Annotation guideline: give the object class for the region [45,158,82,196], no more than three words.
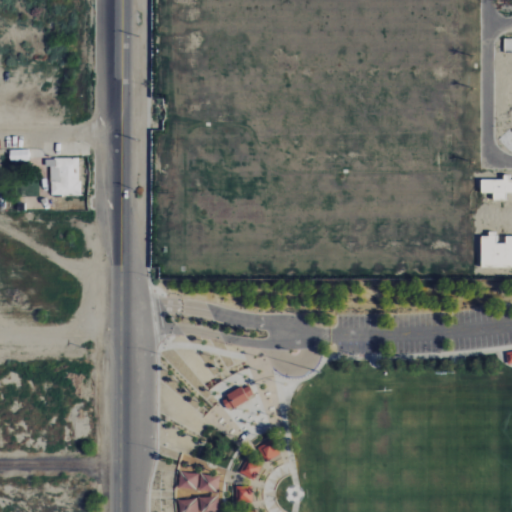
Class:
building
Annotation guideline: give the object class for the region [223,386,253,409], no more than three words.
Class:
building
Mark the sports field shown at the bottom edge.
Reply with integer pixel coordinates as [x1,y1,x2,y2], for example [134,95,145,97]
[290,349,512,512]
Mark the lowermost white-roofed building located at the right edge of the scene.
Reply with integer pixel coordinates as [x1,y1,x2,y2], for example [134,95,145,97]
[480,231,512,268]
